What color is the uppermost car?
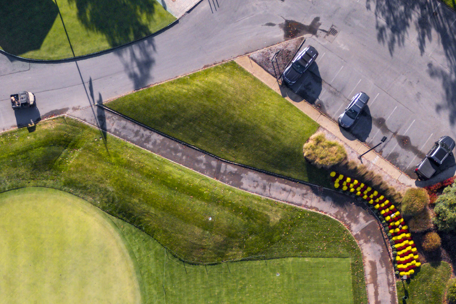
black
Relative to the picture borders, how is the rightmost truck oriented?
on a diagonal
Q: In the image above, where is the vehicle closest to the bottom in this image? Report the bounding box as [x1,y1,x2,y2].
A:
[411,137,455,184]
